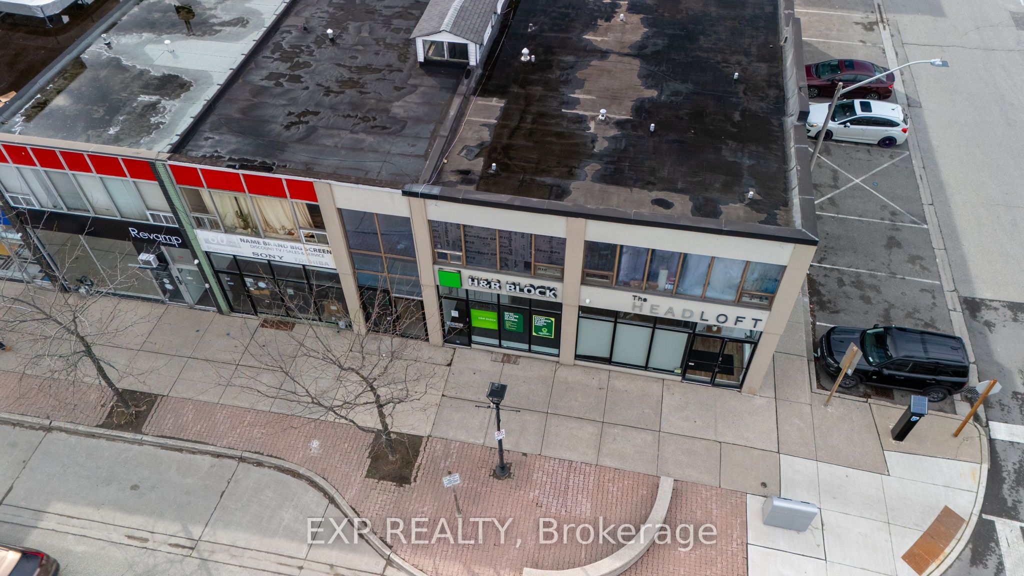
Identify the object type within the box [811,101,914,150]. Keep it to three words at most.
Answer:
car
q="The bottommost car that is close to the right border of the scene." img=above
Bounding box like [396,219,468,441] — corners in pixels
[822,321,974,403]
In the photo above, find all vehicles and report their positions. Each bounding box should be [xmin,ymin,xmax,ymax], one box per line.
[0,533,57,576]
[811,101,914,150]
[822,321,974,403]
[806,60,898,103]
